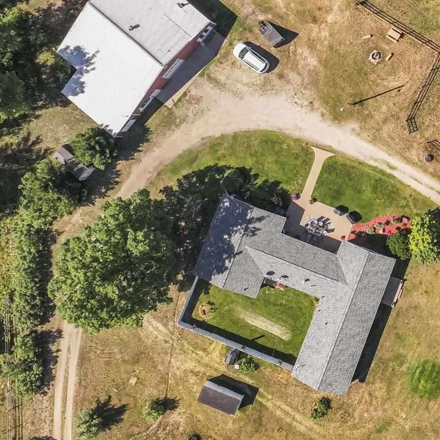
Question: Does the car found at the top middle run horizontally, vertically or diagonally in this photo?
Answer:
diagonally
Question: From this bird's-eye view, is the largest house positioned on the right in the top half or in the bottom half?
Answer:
bottom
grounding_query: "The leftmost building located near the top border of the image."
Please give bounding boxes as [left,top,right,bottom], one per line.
[57,0,213,138]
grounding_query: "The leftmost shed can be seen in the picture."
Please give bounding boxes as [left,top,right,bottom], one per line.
[54,146,94,179]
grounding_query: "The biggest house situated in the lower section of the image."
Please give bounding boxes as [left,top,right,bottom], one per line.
[195,194,397,397]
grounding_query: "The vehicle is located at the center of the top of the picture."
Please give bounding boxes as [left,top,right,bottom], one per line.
[231,46,267,76]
